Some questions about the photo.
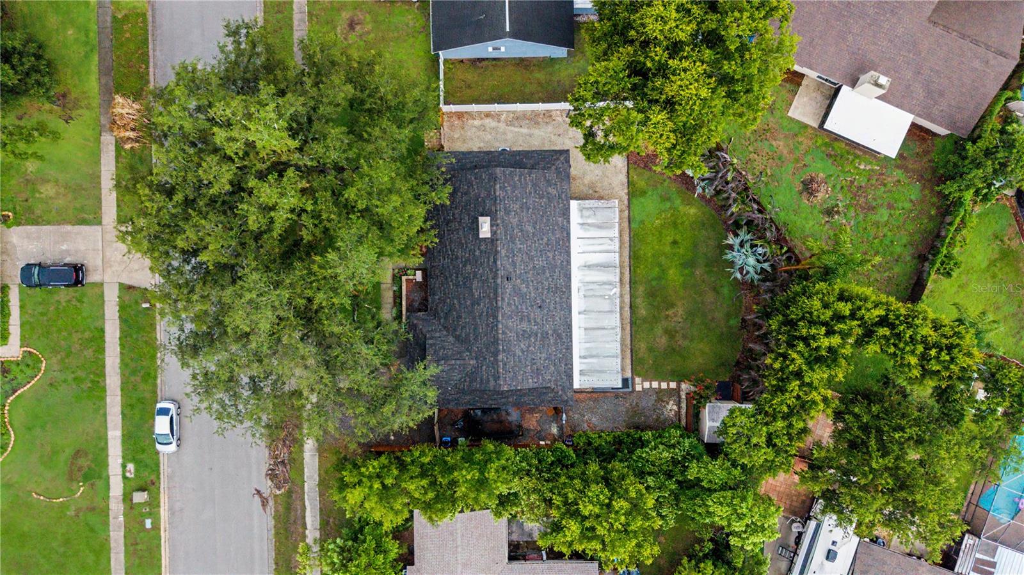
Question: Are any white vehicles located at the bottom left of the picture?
Yes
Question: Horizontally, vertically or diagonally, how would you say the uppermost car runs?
horizontally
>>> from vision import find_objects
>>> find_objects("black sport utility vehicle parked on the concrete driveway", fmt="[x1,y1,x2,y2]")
[20,261,83,289]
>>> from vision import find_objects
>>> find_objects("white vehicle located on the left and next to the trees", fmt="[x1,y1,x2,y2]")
[153,399,182,453]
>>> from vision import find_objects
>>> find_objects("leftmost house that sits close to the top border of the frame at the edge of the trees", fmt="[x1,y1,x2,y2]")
[431,0,575,61]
